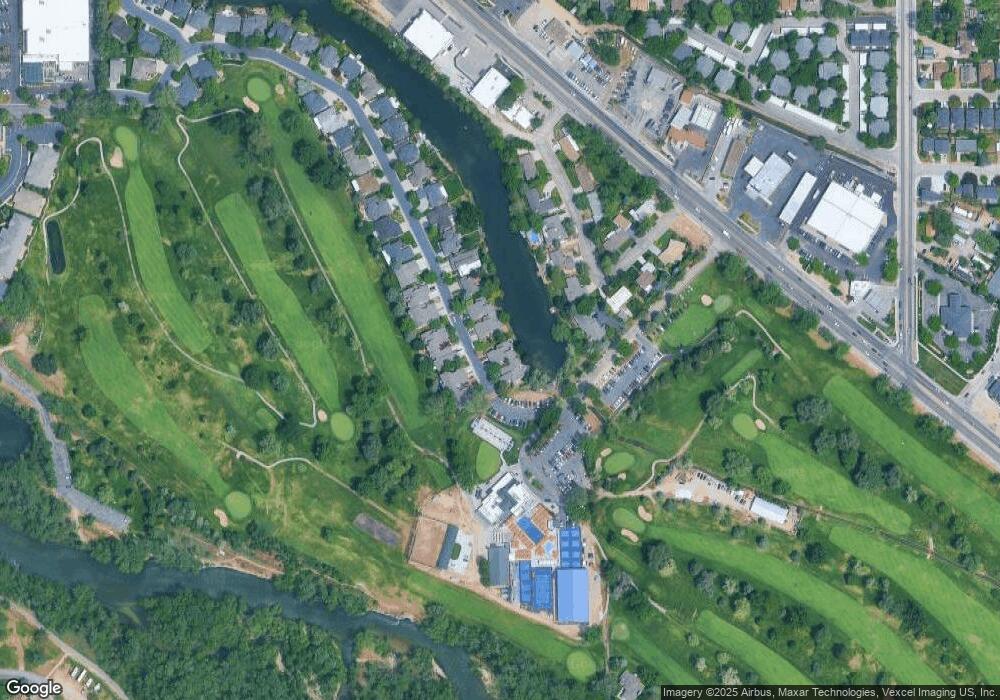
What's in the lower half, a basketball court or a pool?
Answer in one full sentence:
What appears in the lower half is a pool.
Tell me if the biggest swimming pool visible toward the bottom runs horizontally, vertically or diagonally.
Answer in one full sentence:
Seen from above, the biggest swimming pool visible toward the bottom lies diagonally.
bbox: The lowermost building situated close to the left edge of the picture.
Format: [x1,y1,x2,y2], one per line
[0,214,33,285]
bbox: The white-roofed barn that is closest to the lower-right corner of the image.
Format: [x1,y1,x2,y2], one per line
[751,497,789,524]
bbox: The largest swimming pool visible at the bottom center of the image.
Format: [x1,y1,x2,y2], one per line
[517,515,544,545]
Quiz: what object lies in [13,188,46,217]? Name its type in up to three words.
building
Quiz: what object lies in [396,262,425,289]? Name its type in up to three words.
house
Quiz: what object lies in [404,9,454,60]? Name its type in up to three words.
building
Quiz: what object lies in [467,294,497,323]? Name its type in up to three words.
house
